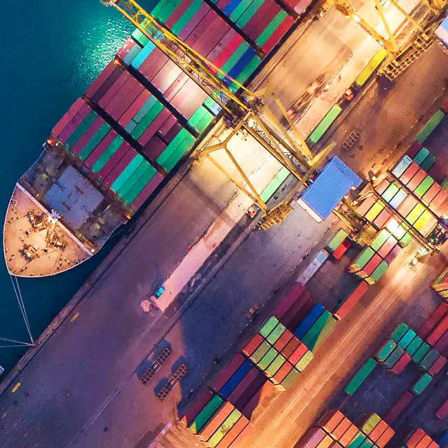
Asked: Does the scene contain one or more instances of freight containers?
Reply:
Yes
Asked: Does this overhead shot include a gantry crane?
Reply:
Yes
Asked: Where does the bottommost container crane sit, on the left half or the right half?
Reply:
right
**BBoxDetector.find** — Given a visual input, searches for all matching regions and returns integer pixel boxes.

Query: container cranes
[358,169,448,260]
[322,0,448,78]
[102,0,390,251]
